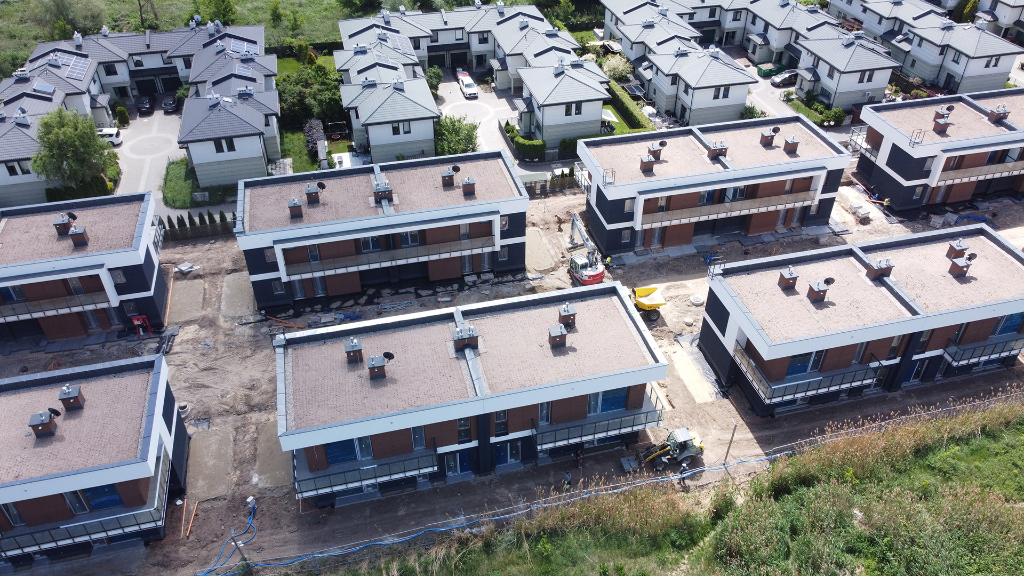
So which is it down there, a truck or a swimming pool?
truck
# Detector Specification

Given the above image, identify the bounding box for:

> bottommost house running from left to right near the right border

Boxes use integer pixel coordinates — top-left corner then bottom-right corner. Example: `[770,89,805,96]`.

[697,225,1024,420]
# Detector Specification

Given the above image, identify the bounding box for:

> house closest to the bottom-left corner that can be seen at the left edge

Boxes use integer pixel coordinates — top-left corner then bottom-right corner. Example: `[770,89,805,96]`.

[0,355,190,576]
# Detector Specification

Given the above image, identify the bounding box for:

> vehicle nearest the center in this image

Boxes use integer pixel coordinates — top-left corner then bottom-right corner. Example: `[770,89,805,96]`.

[559,222,608,288]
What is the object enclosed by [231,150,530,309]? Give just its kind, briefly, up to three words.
house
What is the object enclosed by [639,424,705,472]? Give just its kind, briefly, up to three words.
work vehicle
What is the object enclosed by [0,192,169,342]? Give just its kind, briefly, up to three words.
house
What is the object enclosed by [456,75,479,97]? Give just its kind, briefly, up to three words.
car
